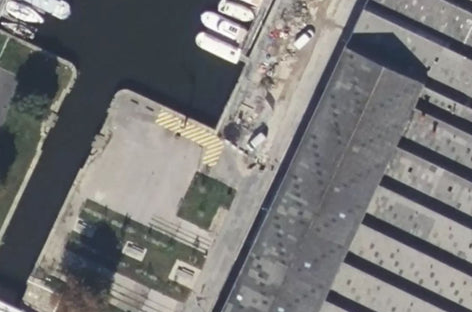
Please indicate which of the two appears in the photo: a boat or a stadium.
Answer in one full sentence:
Visible in the photo is a boat.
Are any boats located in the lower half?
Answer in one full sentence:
No, there is no boat in the lower half.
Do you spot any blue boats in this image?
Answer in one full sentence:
No, no blue boat can be seen from above.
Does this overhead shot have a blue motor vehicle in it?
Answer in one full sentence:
No, the frame has no blue motor vehicle in it.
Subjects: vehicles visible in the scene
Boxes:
[294,28,312,51]
[247,131,267,151]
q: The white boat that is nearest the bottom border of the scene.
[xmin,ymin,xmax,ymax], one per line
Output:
[196,34,243,64]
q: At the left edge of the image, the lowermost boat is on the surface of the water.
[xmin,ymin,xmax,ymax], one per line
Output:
[1,22,37,41]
